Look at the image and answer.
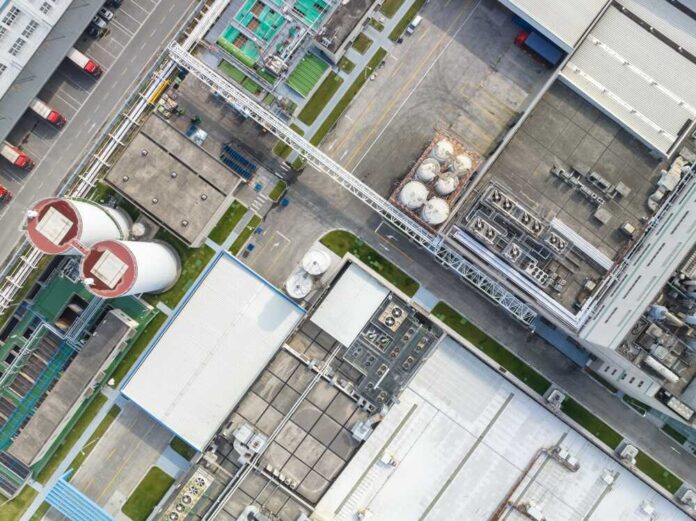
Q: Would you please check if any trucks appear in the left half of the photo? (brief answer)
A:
Yes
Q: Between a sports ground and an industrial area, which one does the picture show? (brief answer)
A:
industrial area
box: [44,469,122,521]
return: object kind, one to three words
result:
building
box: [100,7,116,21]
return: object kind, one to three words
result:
car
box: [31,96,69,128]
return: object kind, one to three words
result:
truck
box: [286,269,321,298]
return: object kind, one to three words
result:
storage tank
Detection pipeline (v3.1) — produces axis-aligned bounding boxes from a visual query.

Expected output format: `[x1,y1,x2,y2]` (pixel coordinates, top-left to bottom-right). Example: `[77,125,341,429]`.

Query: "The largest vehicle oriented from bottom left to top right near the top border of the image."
[404,16,421,37]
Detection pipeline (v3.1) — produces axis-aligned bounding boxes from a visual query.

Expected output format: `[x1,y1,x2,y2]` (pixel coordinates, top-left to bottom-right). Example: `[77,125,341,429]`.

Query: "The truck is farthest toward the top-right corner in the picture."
[512,29,561,67]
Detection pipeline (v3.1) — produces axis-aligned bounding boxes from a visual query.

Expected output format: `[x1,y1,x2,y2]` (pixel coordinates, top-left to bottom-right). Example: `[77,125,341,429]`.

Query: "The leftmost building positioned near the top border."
[0,0,109,147]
